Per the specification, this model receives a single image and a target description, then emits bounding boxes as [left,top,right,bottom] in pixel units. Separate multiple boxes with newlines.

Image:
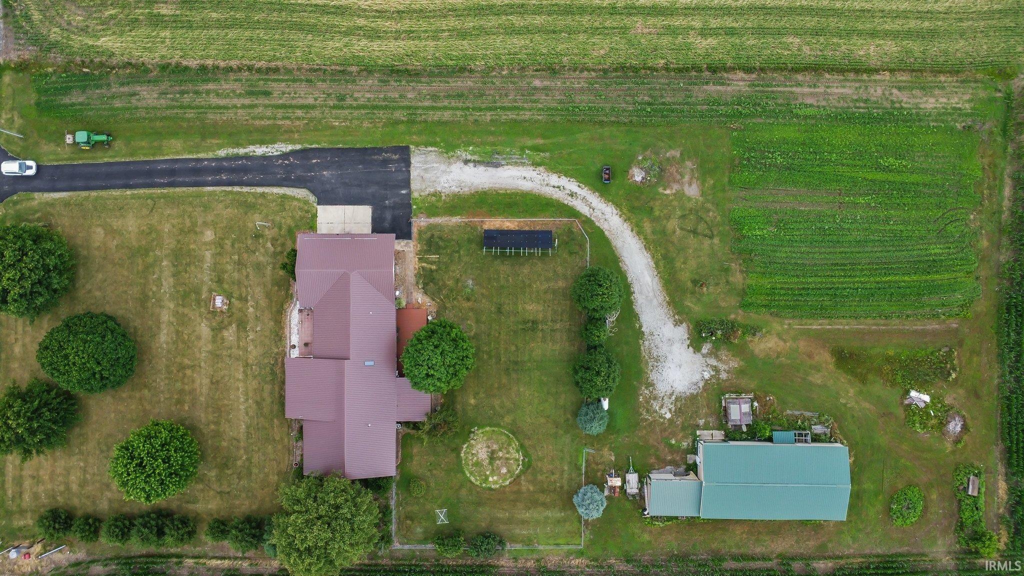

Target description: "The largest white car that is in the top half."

[1,160,38,176]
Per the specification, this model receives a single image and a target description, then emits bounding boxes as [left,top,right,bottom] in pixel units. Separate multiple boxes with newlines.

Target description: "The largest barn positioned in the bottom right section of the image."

[694,438,853,521]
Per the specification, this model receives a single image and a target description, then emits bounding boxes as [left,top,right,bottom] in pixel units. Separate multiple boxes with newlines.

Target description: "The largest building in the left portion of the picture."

[284,234,433,480]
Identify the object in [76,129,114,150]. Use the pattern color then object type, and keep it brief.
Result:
green work vehicle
